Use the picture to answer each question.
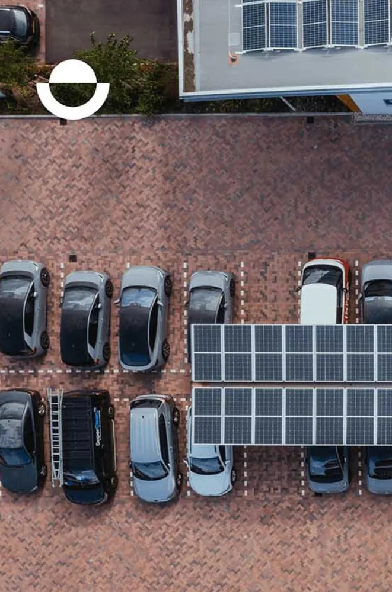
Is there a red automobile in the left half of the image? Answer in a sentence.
No, looking in the left half of the image, there is no red automobile.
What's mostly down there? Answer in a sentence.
The bulk of the photo consists of paved ground.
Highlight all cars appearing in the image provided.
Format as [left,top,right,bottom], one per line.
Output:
[119,265,176,372]
[358,260,392,343]
[0,260,54,359]
[61,270,117,370]
[301,446,351,495]
[0,5,44,51]
[185,402,237,497]
[185,271,238,367]
[0,389,48,495]
[302,257,353,323]
[127,395,182,504]
[359,435,392,496]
